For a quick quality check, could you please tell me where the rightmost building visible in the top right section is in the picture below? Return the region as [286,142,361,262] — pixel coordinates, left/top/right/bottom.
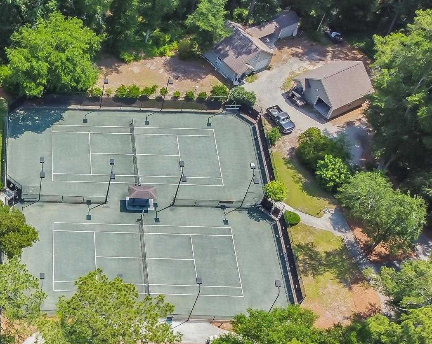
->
[287,58,377,120]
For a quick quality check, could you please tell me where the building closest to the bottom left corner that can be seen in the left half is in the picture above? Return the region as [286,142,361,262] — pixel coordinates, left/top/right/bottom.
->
[126,185,158,214]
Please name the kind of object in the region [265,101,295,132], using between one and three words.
truck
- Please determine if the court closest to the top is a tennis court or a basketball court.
tennis court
